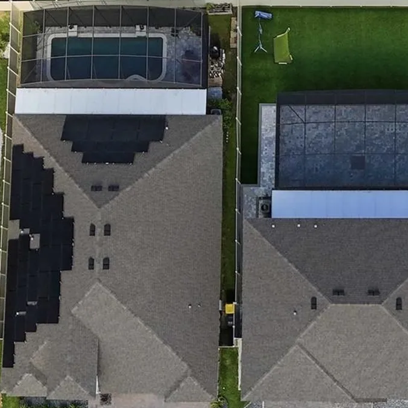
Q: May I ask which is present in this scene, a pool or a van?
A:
pool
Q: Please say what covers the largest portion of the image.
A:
buildings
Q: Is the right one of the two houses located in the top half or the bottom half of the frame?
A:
bottom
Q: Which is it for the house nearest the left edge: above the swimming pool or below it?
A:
below it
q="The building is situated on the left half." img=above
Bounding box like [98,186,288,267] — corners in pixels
[1,88,224,402]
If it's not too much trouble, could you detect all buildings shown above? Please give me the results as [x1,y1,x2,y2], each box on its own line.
[1,88,224,402]
[241,190,408,403]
